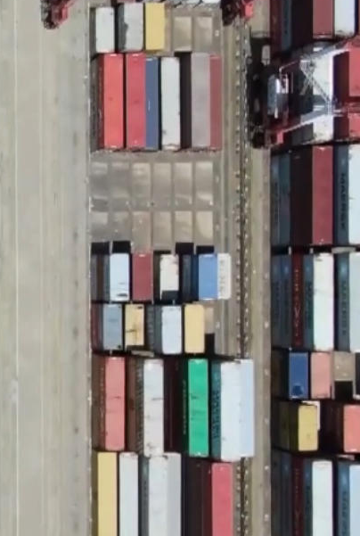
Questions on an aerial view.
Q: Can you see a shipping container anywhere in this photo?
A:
Yes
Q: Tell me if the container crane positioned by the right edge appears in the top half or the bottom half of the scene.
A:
top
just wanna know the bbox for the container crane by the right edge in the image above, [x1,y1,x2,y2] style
[251,30,360,153]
